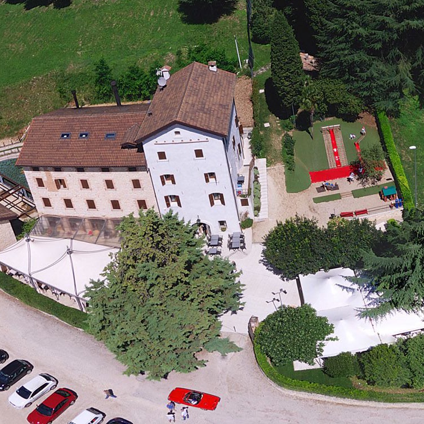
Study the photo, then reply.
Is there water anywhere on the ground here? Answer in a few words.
No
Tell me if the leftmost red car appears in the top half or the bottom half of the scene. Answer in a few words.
bottom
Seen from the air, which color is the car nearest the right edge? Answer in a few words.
red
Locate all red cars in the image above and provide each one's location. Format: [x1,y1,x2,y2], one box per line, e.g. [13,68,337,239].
[25,389,81,424]
[170,387,223,417]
